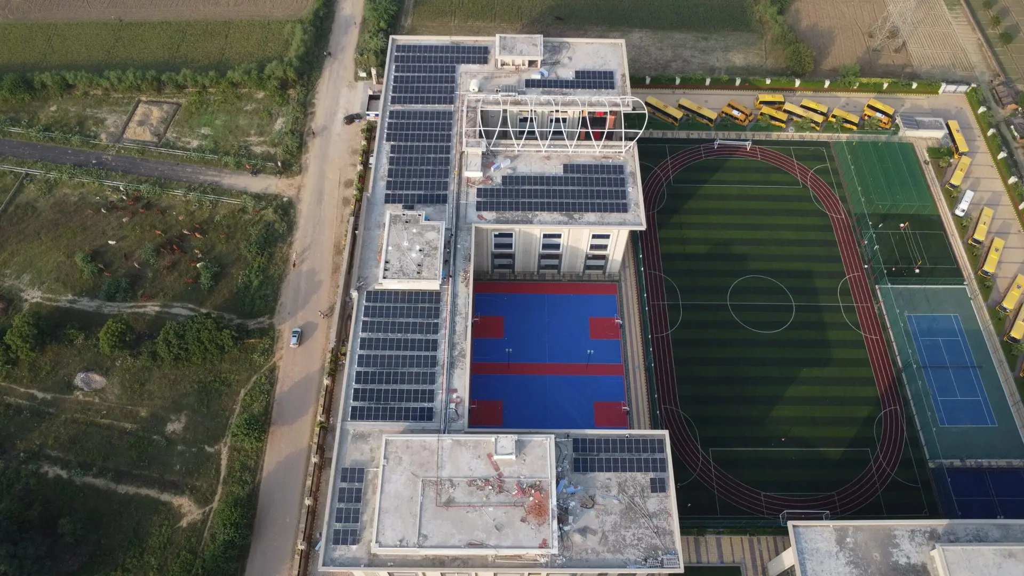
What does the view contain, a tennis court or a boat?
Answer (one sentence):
This aerial view contains a tennis court.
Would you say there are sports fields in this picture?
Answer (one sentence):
Yes, the frame does contain a sports field.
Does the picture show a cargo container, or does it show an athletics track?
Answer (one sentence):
There is an athletics track in the scene.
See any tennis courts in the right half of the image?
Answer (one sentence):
Yes, looking in the right half of the image, one can make out a tennis court.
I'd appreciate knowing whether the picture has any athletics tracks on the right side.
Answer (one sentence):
Yes, an athletics track shows up on the right side.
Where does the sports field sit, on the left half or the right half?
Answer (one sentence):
The sports field appears in the right half of the scene.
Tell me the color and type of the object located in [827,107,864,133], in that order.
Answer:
yellow bus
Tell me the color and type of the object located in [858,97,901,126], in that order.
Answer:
yellow bus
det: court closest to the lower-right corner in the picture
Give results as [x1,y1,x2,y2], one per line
[929,468,1024,523]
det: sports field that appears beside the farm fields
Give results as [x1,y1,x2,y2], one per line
[627,138,943,528]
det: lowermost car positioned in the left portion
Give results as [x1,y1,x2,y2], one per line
[290,327,302,349]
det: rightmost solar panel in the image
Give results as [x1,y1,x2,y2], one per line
[903,115,924,131]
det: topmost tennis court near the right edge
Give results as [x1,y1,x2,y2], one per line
[906,314,997,426]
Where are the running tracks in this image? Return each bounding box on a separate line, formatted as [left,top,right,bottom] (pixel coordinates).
[642,145,904,518]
